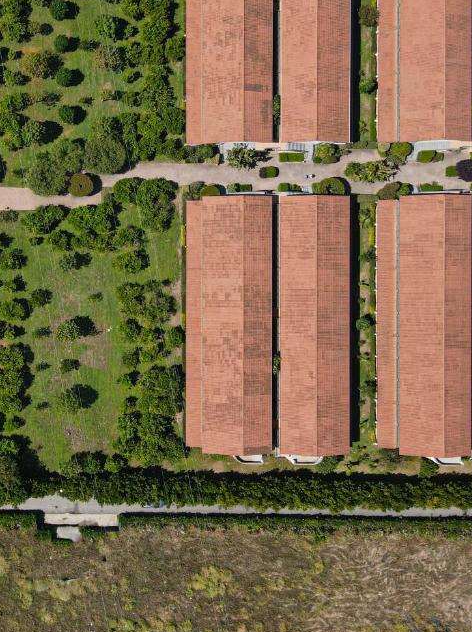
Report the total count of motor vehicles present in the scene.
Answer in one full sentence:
The count of motor vehicles is 0.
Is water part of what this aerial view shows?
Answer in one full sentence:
No, the scene doesn't show any water.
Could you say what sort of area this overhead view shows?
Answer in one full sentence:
The area seen from above is a residential area.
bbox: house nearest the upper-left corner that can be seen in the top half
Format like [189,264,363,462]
[184,0,273,149]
